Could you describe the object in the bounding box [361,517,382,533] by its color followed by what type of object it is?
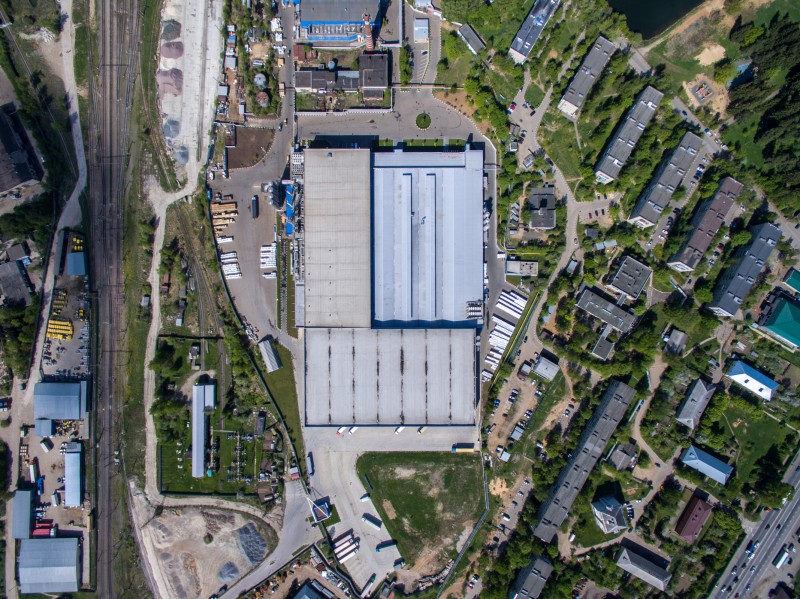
white vehicle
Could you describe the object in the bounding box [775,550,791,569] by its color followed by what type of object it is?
white vehicle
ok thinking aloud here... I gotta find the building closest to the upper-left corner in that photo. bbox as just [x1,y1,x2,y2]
[0,103,55,205]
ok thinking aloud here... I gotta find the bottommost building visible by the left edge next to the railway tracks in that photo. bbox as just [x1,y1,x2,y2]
[17,533,85,593]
